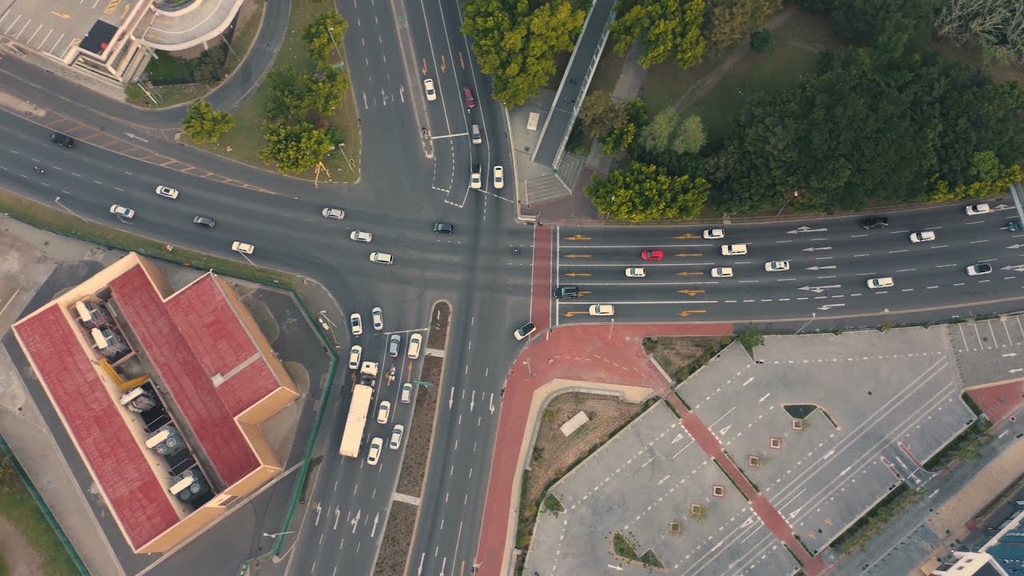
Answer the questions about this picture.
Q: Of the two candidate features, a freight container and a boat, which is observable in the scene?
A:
freight container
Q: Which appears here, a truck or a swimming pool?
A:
truck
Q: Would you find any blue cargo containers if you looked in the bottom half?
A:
No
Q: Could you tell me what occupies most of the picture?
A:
paved ground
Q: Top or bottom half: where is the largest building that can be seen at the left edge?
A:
bottom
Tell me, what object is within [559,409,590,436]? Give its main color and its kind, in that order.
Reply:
white shipping container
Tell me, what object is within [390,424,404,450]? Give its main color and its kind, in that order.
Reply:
white car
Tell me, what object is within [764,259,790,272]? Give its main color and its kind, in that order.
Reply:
white vehicle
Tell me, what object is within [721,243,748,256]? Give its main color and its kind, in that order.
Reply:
white vehicle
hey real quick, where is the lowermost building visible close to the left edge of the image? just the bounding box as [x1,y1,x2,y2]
[12,253,298,554]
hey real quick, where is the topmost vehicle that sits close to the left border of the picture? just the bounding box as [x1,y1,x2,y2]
[47,133,76,150]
